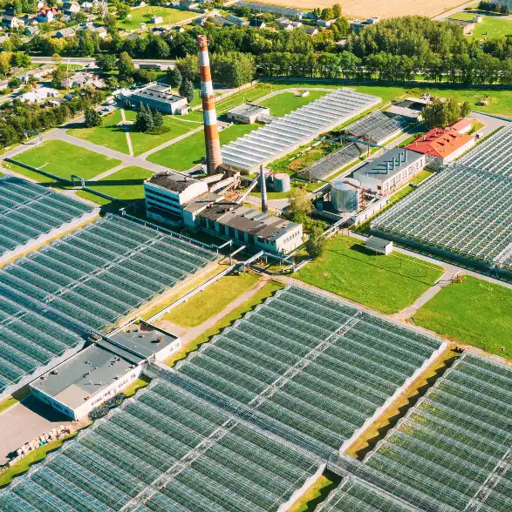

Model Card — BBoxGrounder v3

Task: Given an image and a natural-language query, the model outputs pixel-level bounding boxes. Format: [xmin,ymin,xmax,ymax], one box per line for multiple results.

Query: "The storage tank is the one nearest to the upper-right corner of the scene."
[329,177,364,214]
